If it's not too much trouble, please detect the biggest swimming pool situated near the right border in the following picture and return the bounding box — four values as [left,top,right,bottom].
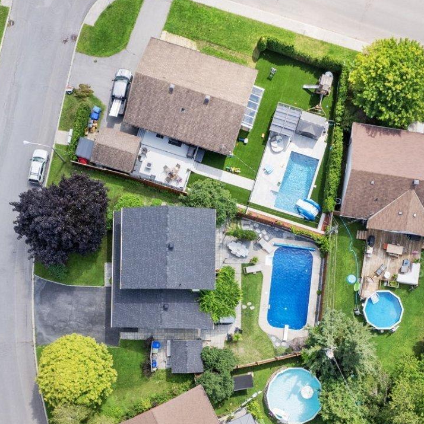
[362,290,403,331]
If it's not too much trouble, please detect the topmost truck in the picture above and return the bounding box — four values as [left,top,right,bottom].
[108,70,131,117]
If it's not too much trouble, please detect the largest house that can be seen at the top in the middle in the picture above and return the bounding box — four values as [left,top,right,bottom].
[124,38,258,155]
